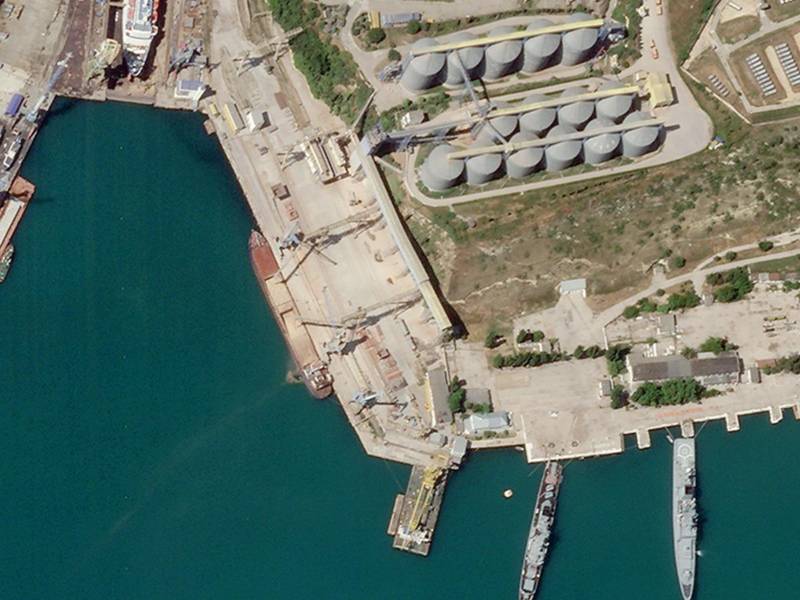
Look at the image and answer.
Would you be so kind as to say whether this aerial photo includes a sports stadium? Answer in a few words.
No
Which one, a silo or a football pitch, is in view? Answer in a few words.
silo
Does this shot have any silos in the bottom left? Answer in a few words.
No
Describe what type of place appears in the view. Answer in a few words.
port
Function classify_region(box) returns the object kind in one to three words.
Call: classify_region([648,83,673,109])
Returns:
building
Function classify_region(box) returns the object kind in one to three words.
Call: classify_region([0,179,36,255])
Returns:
ship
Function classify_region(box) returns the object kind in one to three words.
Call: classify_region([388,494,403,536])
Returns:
ship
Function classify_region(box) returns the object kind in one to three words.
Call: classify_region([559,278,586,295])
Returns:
building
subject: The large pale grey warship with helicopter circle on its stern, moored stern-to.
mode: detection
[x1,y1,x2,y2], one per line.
[673,437,696,600]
